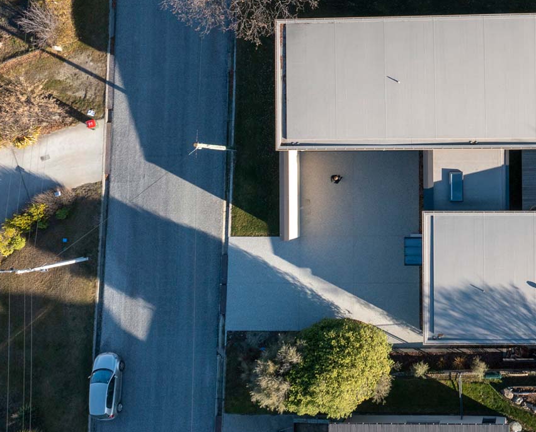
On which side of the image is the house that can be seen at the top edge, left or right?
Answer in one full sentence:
The house that can be seen at the top edge is on the right side of the image.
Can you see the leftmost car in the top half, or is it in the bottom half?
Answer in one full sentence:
The leftmost car sits in the bottom half of the picture.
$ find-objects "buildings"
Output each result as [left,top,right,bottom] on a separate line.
[327,405,511,432]
[276,13,536,151]
[423,209,536,346]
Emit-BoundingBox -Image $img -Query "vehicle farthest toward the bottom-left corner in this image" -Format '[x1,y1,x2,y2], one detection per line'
[89,354,126,423]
